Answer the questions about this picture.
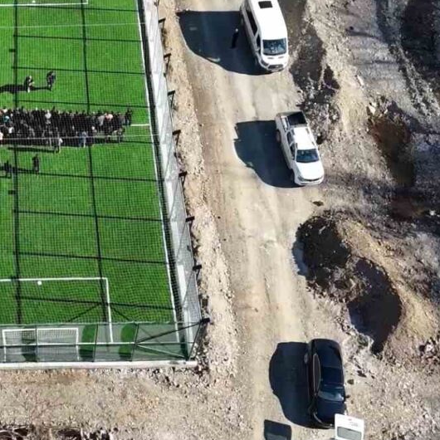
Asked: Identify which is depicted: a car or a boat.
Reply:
car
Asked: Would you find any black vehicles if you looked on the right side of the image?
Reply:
Yes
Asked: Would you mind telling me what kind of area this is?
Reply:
sports ground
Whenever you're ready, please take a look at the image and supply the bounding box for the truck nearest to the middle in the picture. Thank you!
[275,112,330,188]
